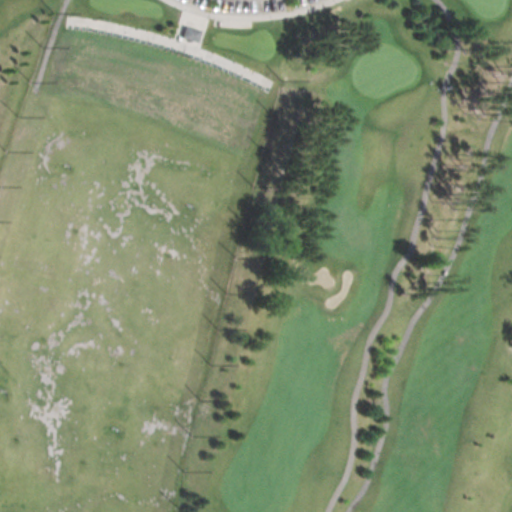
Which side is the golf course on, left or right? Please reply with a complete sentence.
It is on the right.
